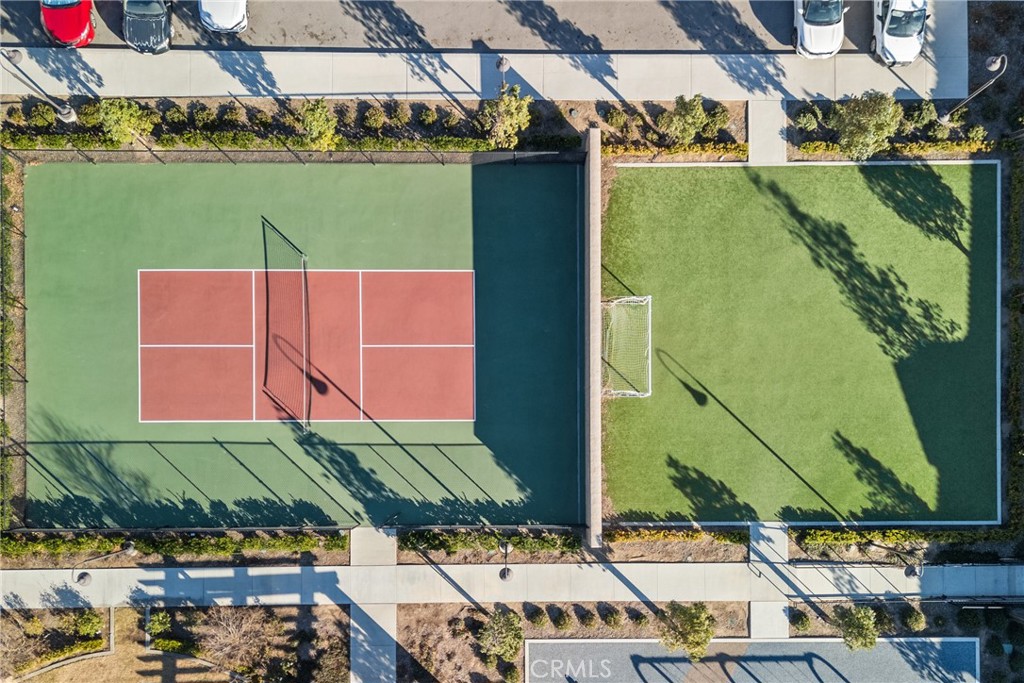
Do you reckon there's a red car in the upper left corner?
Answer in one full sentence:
Yes, the scene does show a red car in the upper left corner.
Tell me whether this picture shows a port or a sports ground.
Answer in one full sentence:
What you see here is a sports ground.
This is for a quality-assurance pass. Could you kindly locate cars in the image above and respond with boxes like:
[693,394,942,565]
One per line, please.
[33,0,98,49]
[869,0,933,69]
[199,0,252,31]
[114,0,177,56]
[792,0,854,61]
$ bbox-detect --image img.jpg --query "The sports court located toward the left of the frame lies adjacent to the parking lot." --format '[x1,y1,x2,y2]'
[24,164,583,527]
